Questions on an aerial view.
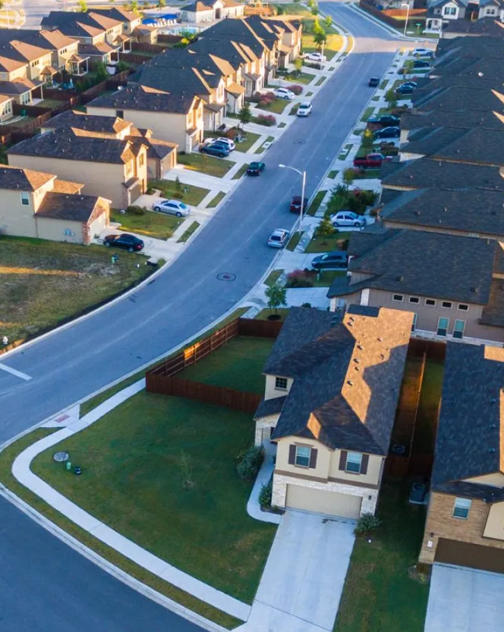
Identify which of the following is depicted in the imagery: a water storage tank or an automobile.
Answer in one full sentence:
Looking from above, you can make out an automobile.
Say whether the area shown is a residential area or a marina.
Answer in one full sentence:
The area seen from above is a residential area.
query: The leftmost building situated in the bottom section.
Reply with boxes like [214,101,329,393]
[249,304,414,521]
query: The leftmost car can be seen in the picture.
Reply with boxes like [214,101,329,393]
[101,233,147,252]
